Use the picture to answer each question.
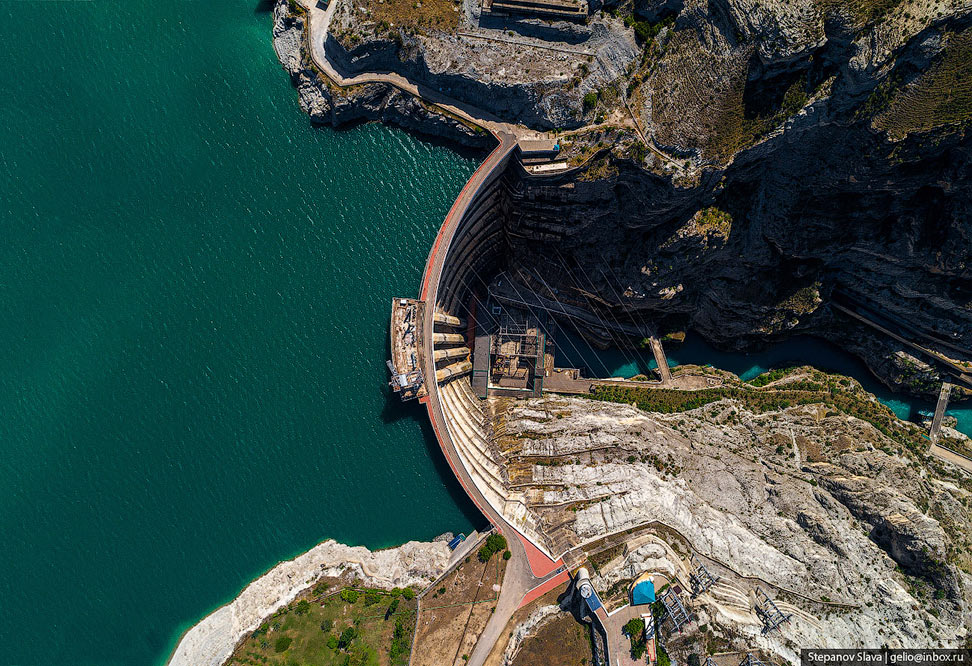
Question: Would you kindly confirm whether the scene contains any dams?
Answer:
Yes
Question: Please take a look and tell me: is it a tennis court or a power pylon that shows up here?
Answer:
power pylon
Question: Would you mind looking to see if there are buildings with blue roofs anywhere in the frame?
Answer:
Yes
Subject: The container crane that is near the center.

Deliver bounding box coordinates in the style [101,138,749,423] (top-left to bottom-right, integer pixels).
[386,360,425,396]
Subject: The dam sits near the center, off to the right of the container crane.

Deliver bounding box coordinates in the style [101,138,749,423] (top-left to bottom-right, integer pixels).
[421,129,590,562]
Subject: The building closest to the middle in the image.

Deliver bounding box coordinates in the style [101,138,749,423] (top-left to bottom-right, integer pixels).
[468,293,546,398]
